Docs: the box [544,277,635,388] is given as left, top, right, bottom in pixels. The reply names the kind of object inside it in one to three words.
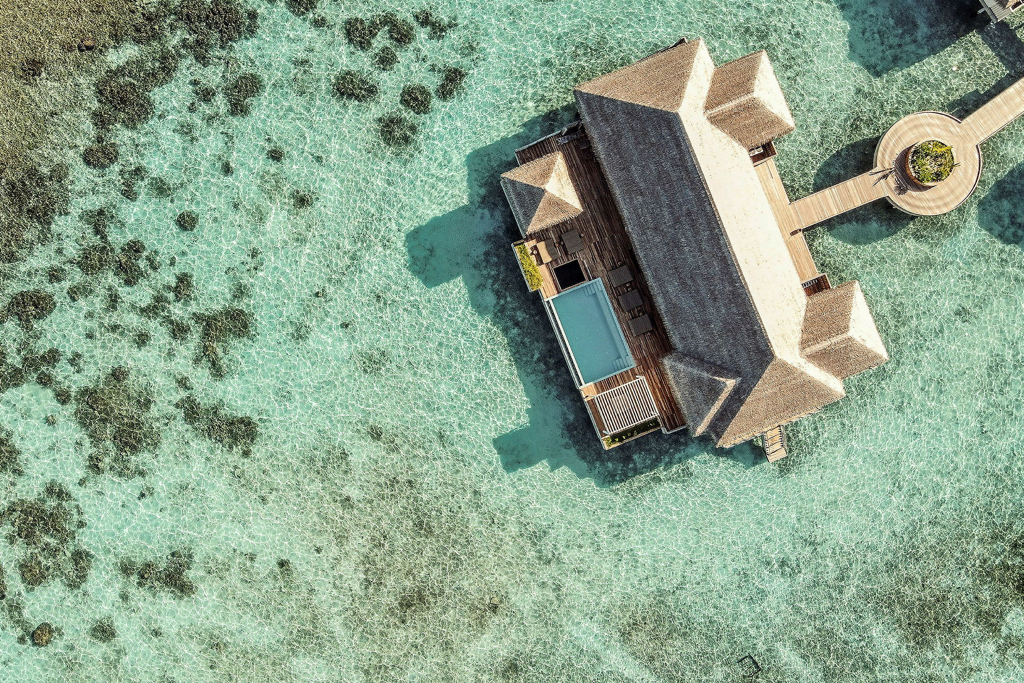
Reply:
swimming pool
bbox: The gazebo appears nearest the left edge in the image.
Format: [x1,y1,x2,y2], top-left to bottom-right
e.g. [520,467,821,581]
[501,152,584,236]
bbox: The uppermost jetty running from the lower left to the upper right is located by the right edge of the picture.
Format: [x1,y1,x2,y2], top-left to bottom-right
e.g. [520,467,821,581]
[958,74,1024,147]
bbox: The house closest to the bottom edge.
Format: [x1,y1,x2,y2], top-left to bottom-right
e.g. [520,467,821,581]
[572,37,888,449]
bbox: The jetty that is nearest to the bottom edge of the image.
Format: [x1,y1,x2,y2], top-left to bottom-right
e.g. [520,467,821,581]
[789,166,889,230]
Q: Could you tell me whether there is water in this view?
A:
Yes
